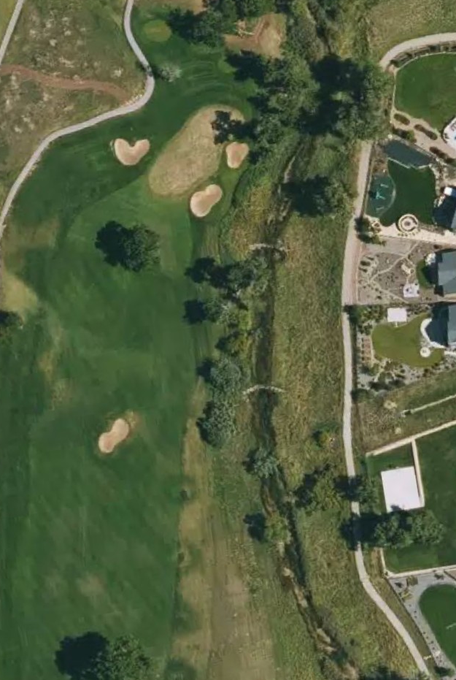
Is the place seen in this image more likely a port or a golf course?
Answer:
golf course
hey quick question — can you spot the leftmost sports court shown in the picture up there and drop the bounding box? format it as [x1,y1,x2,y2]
[369,172,397,218]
